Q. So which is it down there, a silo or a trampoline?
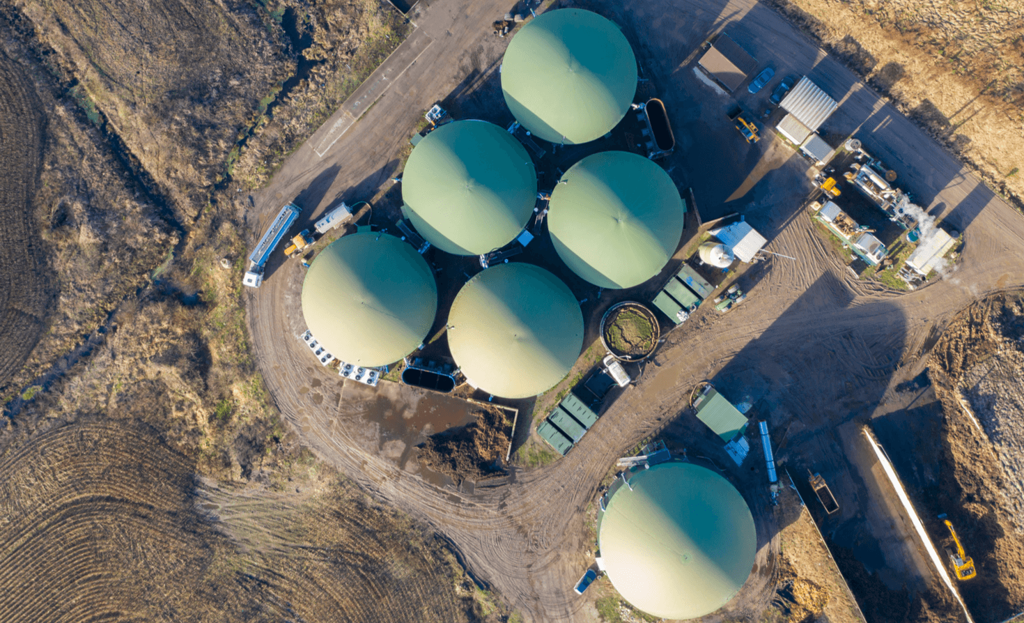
silo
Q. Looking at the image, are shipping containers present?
Yes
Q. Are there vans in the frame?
Yes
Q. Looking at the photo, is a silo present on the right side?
Yes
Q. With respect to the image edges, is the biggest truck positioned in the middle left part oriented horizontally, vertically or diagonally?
diagonally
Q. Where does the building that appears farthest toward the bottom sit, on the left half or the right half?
right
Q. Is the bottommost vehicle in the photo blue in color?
Yes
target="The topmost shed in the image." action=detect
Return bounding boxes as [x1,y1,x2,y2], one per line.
[697,33,758,92]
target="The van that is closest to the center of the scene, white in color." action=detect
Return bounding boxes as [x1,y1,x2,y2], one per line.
[602,354,630,387]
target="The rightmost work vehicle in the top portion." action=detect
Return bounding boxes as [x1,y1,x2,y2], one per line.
[811,173,839,201]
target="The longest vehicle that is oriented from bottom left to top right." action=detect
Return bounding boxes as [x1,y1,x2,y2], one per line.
[235,201,307,292]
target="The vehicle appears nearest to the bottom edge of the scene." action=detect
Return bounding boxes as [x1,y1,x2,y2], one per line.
[574,566,599,594]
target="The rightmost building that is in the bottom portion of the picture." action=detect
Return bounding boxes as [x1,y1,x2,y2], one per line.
[679,377,748,443]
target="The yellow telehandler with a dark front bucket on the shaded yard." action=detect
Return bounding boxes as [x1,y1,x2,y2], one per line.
[723,105,762,145]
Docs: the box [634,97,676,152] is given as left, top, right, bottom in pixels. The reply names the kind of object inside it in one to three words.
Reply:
storage tank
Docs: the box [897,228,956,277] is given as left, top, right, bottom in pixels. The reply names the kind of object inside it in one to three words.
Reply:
building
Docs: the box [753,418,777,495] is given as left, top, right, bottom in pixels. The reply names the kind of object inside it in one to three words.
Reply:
trailer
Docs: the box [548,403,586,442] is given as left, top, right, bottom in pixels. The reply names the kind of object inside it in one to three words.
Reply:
shipping container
